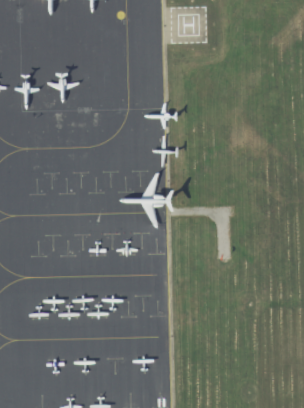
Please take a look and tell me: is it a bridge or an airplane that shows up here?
airplane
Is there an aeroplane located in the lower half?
Yes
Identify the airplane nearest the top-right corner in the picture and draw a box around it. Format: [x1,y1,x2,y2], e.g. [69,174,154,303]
[146,102,176,130]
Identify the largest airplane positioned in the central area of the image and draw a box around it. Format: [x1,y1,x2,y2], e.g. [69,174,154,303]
[120,172,174,228]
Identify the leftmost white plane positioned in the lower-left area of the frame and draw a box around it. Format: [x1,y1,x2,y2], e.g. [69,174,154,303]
[30,304,51,320]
